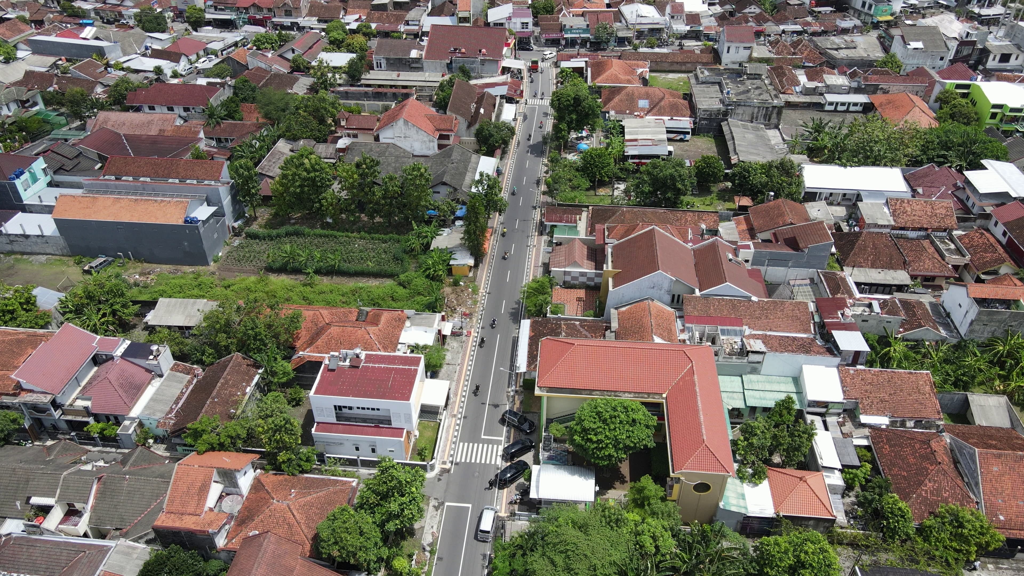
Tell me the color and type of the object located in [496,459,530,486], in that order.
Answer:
black car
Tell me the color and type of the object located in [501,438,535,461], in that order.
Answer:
black car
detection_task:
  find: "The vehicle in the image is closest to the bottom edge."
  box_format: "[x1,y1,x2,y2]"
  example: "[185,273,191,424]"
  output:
[477,505,498,540]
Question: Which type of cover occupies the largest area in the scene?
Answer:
buildings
